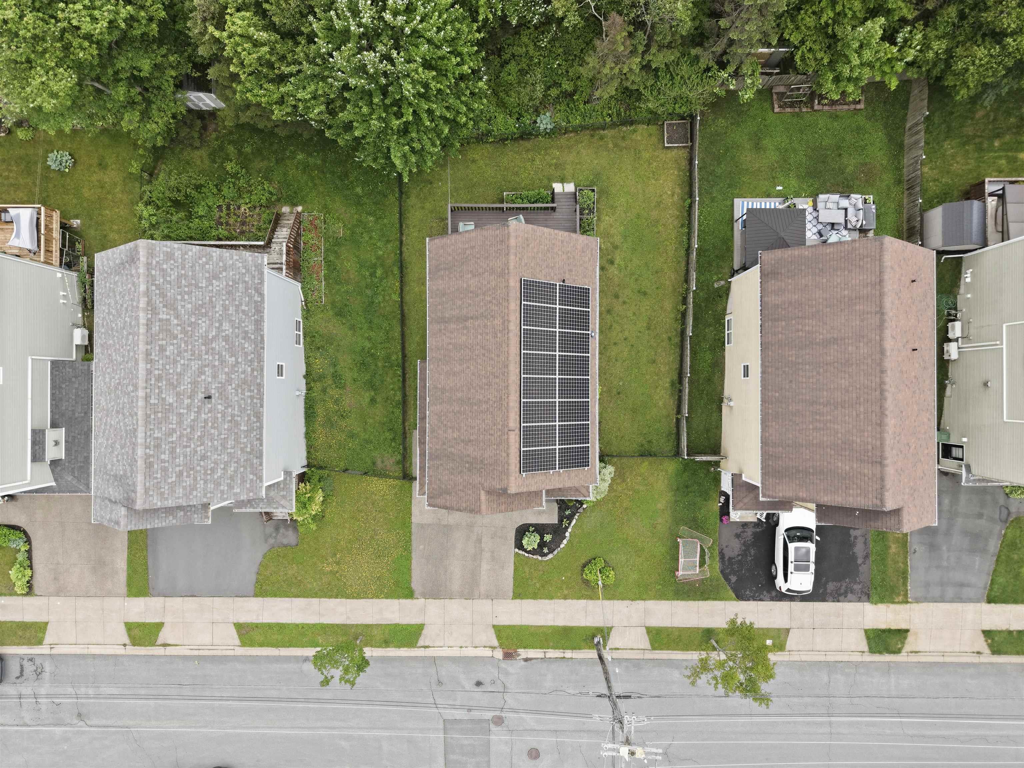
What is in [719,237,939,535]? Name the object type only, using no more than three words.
house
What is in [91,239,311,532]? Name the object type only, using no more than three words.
house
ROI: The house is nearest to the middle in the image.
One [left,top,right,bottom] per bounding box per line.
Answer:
[416,223,601,515]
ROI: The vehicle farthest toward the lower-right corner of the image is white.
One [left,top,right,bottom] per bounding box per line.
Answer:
[771,505,820,596]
